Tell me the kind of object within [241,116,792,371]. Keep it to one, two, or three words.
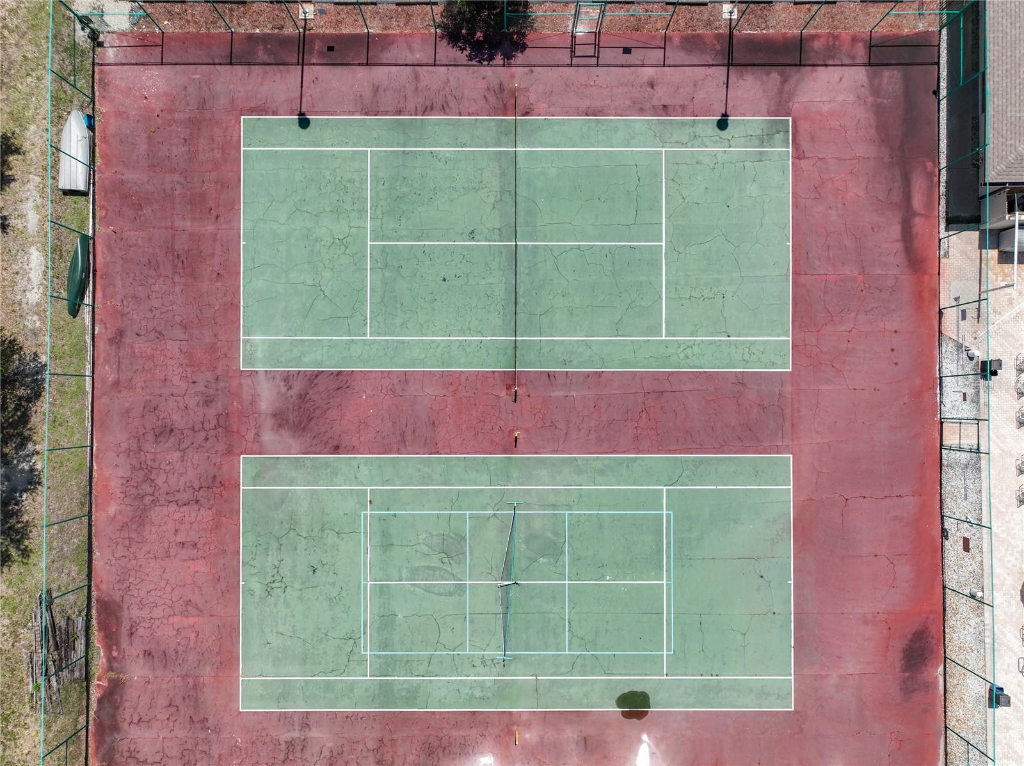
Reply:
tennis court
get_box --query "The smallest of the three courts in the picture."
[362,512,673,654]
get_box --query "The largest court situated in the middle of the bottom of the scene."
[240,455,794,711]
